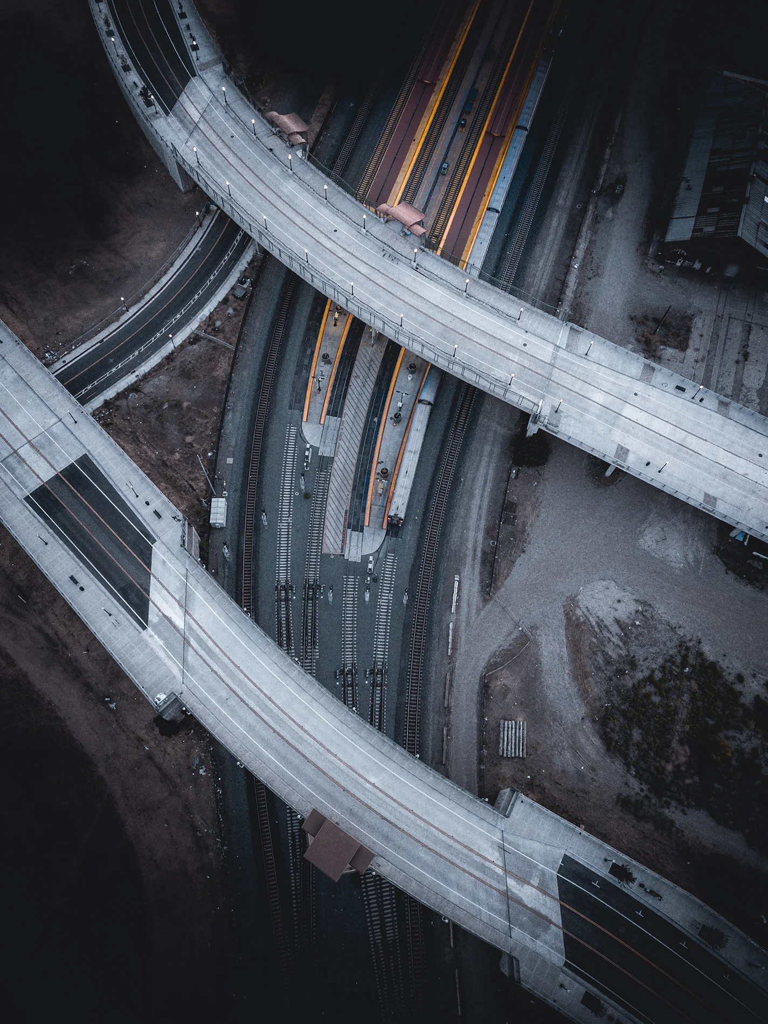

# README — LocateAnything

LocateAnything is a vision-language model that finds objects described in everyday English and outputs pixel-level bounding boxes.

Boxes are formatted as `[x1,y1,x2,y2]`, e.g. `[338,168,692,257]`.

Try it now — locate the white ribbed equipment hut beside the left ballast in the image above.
[208,498,230,530]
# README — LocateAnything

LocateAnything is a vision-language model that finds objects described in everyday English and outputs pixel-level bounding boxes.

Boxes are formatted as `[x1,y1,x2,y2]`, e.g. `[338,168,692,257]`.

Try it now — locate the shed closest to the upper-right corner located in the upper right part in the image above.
[652,73,768,293]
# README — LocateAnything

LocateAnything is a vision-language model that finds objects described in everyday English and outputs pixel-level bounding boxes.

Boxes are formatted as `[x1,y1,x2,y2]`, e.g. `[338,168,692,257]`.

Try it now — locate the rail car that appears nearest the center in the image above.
[387,400,432,532]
